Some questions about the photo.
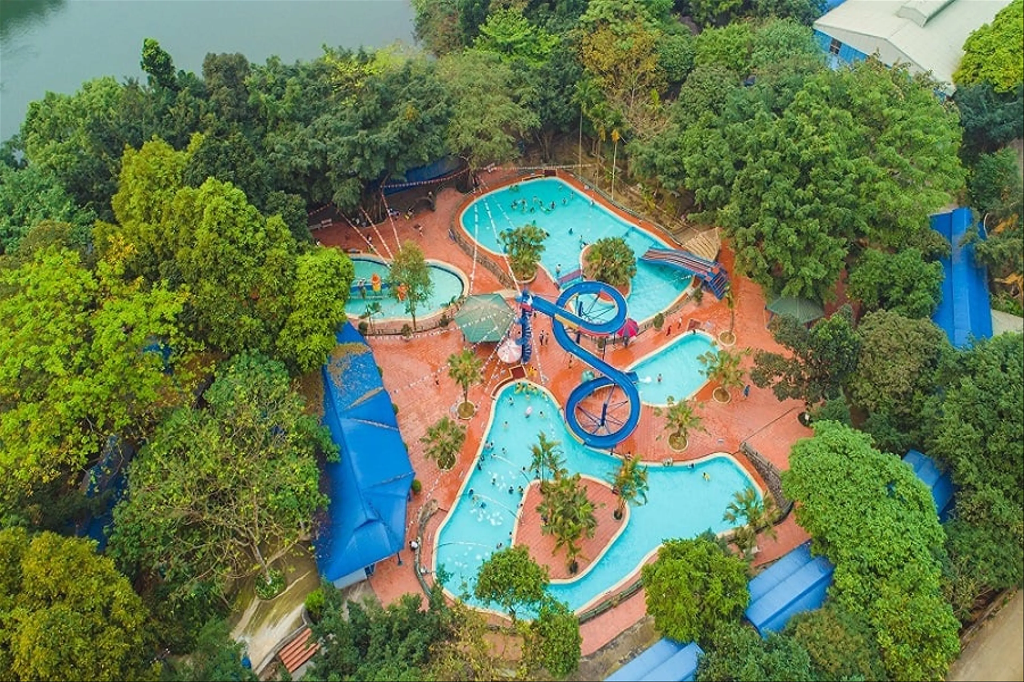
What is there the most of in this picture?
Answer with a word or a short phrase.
trees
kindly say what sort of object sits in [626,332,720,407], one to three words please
swimming pool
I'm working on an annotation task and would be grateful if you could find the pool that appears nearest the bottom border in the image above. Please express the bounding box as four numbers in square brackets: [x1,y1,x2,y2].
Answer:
[432,379,763,621]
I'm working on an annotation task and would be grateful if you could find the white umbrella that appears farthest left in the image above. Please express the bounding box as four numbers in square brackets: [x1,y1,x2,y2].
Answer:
[498,342,522,371]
